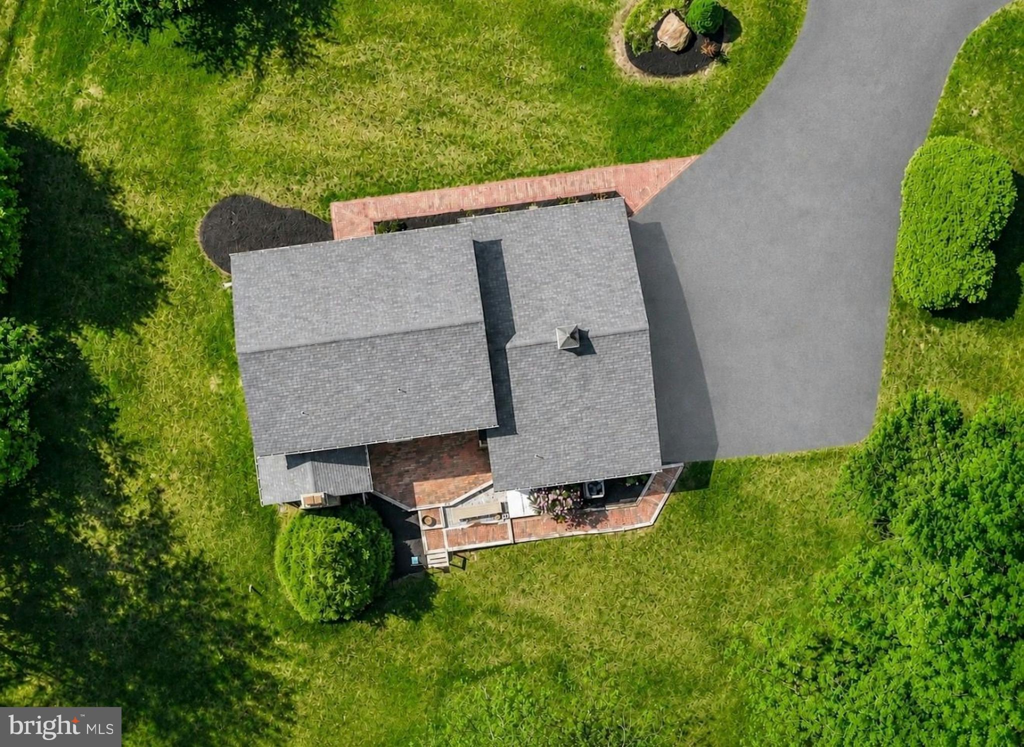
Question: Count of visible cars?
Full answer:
The photo contains no cars.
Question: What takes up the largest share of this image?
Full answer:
Most of the picture is covered by grass.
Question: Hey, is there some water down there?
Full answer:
No, no water is visible.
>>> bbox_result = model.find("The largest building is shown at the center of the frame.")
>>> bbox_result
[225,195,662,508]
